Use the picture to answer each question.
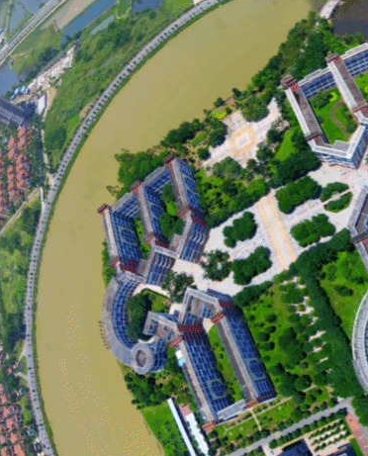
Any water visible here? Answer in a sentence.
Yes, water can be seen from above here.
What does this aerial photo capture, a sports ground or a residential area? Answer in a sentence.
This looks like a residential area.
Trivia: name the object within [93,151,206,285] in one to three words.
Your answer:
building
